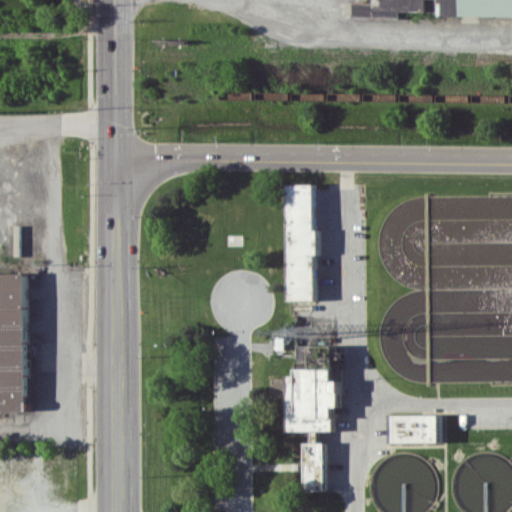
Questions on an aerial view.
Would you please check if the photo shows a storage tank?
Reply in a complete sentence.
Yes, a storage tank can be made out from above.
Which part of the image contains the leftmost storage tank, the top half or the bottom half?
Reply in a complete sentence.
It is in the bottom half that the leftmost storage tank appears.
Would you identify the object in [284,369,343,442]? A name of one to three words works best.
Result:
building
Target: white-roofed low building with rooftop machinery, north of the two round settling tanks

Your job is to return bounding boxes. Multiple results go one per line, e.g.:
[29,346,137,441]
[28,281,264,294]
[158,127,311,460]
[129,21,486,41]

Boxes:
[390,416,442,444]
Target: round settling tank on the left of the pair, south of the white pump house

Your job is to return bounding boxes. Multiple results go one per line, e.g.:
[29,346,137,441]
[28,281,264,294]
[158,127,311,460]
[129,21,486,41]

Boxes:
[371,453,439,512]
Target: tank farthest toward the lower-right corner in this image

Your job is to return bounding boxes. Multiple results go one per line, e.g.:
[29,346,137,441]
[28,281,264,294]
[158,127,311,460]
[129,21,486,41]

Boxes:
[453,454,512,512]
